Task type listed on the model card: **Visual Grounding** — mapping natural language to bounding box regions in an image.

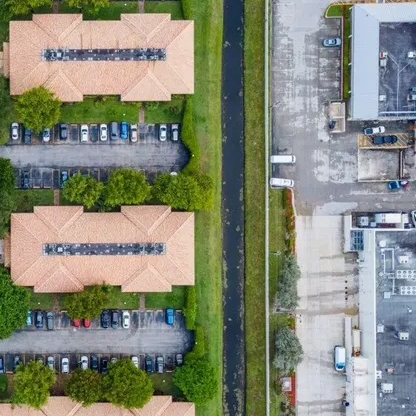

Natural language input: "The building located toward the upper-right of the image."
[349,4,416,120]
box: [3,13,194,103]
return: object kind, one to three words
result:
building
